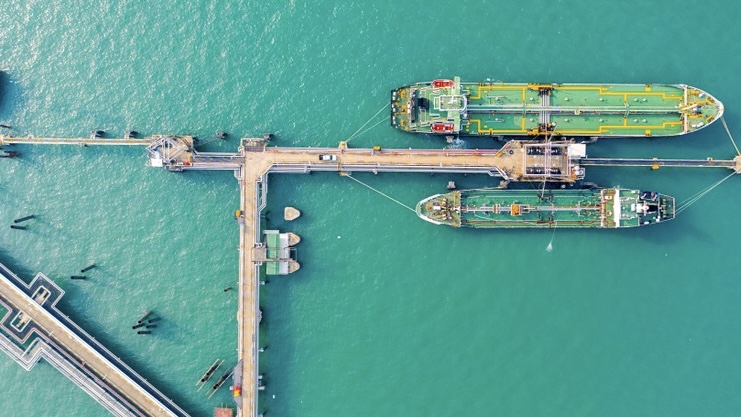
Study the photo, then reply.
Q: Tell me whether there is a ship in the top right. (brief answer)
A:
Yes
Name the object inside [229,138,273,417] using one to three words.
pier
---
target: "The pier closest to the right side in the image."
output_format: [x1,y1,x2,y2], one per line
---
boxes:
[261,145,499,177]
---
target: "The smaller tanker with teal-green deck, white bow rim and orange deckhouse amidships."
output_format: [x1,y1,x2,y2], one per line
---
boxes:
[417,189,674,228]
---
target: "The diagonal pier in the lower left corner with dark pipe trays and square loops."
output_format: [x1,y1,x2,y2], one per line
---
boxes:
[0,264,195,417]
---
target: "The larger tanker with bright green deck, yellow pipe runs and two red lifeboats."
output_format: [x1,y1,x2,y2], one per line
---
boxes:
[391,76,724,138]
